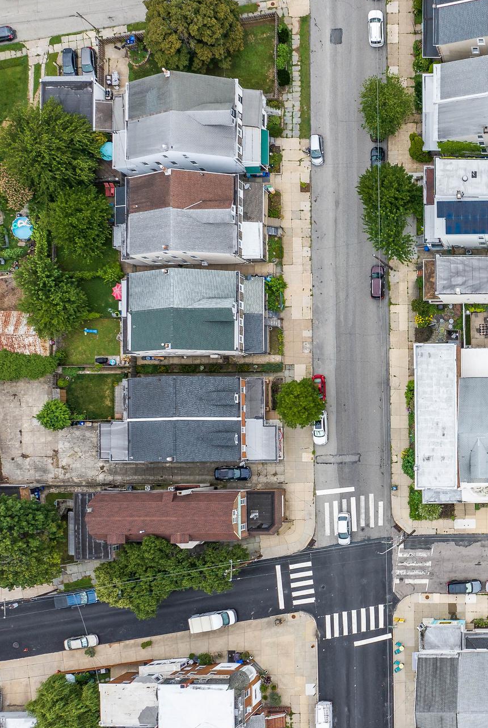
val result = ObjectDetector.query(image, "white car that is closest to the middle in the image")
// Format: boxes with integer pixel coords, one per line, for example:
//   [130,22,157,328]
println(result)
[311,410,329,445]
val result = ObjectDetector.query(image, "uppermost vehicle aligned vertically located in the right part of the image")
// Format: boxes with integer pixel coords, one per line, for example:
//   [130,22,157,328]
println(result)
[367,9,385,47]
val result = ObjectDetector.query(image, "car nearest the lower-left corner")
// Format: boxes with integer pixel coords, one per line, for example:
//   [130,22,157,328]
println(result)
[64,633,100,651]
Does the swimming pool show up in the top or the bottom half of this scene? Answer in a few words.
top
